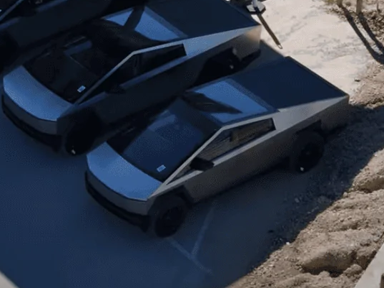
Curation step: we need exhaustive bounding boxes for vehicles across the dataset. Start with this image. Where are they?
[0,0,261,157]
[0,0,160,78]
[80,55,350,236]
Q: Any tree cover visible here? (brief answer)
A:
No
